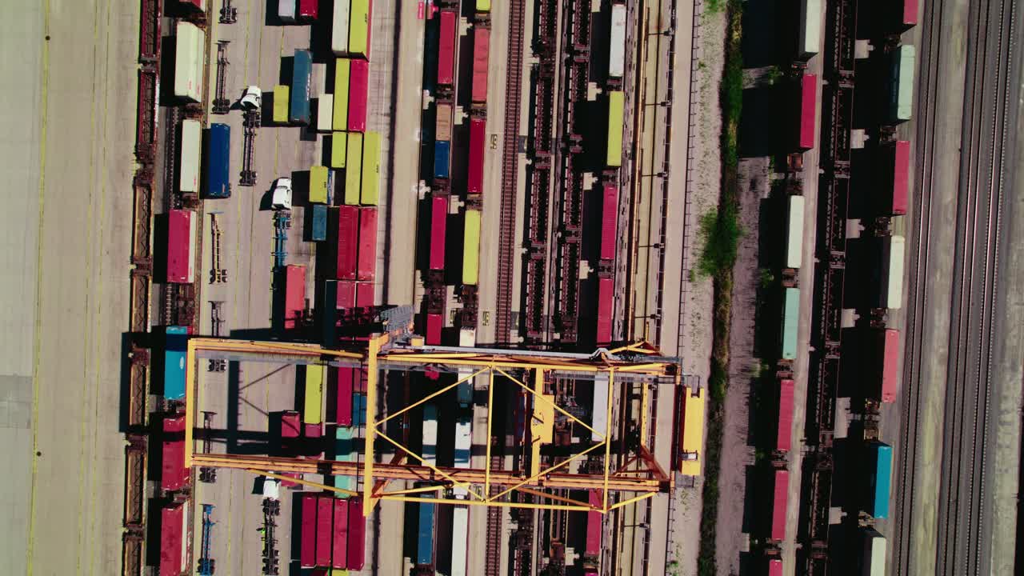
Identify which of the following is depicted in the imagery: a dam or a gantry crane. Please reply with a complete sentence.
Of the two, only a gantry crane appears.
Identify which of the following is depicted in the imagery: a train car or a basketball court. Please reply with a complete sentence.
Of the two, only a train car appears.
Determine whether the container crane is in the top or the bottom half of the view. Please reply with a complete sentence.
It is in the bottom half that the container crane appears.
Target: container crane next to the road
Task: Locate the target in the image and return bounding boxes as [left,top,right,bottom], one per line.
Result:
[182,302,705,514]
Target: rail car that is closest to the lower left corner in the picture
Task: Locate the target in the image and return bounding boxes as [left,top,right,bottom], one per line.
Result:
[122,528,145,576]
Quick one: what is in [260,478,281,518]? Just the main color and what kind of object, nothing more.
white truck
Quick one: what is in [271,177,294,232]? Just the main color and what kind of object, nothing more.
white truck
